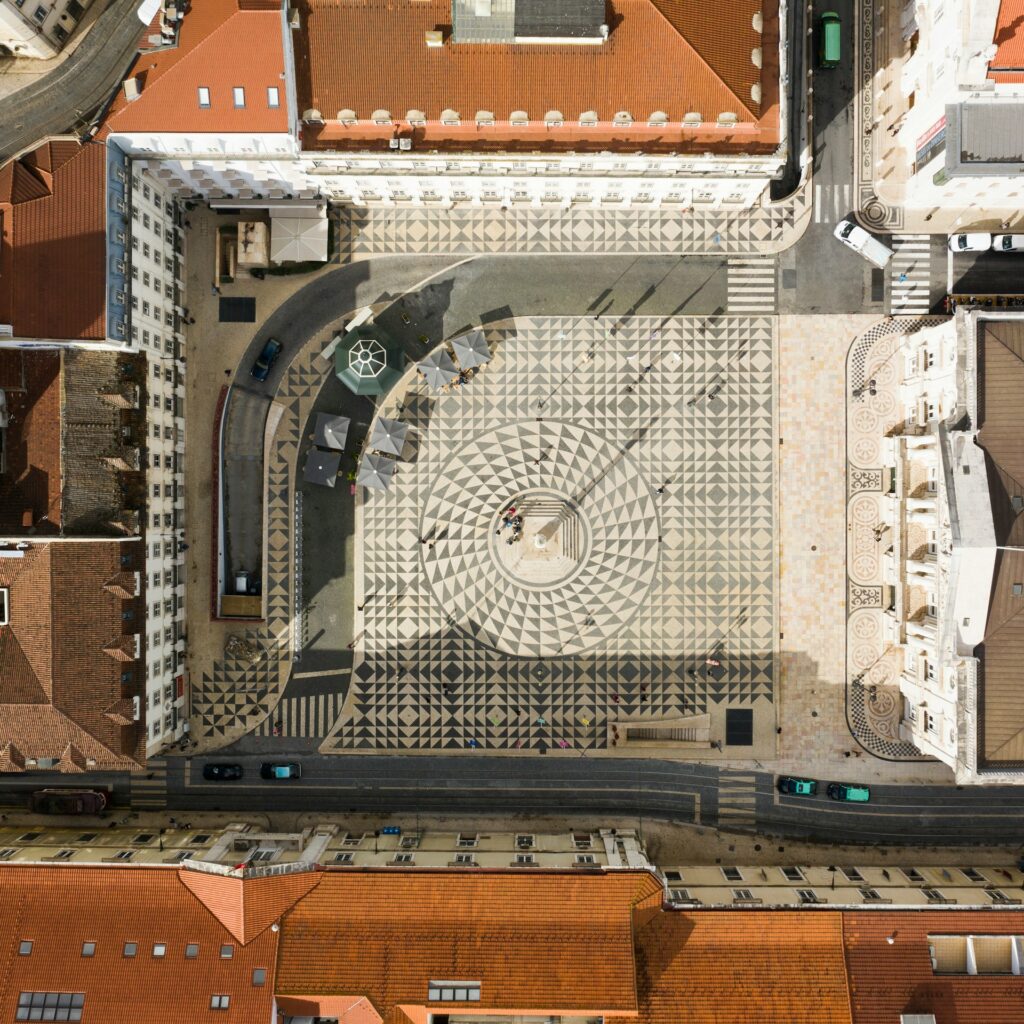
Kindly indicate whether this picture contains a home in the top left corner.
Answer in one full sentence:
Yes, you'll find a home in the top left corner.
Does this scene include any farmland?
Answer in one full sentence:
No, there's no farmland in this view.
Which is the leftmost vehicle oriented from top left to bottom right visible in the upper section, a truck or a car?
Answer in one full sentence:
The leftmost vehicle oriented from top left to bottom right visible in the upper section appears to be a truck.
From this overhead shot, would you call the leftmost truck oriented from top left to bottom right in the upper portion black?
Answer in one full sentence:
No, the color of the leftmost truck oriented from top left to bottom right in the upper portion is white.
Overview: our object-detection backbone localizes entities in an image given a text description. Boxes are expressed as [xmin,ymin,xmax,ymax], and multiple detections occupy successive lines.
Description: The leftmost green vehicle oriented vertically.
[818,14,842,75]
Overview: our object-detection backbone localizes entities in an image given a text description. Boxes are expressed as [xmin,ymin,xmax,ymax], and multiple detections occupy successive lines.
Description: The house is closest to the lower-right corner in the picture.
[816,861,1024,1024]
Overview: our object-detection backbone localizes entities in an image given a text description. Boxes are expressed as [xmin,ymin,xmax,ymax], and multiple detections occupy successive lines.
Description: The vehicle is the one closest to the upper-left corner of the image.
[251,339,284,382]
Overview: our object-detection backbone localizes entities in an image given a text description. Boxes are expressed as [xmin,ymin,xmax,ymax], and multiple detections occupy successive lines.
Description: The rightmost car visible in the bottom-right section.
[825,780,870,801]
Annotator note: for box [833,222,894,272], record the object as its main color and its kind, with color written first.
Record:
white truck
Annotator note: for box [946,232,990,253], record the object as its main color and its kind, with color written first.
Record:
white car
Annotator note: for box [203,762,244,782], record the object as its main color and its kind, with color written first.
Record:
black car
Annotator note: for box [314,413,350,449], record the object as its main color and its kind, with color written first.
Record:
gray umbrella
